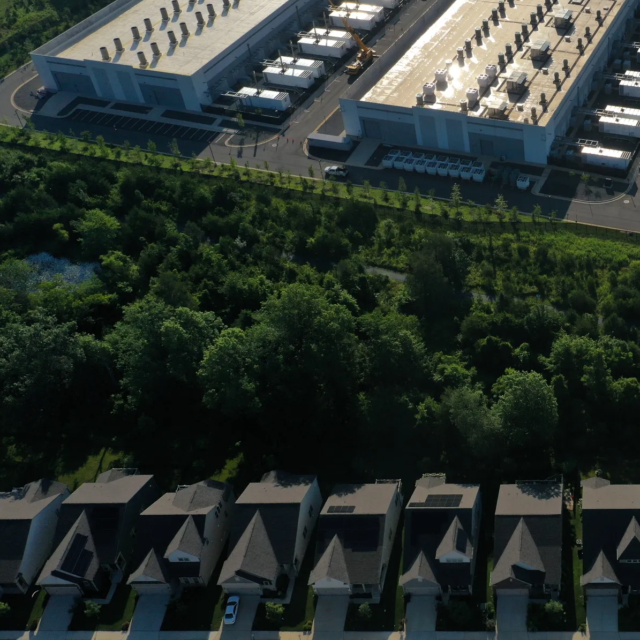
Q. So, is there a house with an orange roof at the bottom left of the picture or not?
No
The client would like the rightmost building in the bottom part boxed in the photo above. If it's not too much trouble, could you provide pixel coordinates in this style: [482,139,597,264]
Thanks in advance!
[577,477,640,597]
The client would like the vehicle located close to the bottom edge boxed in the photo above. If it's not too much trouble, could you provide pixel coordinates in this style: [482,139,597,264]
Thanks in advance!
[221,597,242,624]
